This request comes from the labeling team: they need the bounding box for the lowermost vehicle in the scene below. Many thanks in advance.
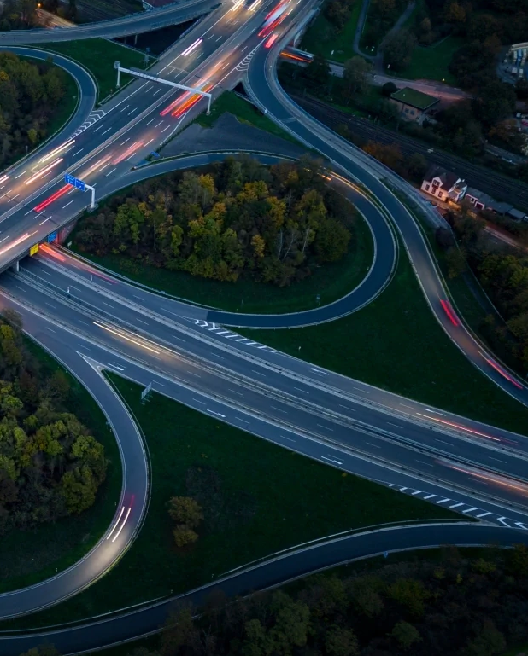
[113,508,126,526]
